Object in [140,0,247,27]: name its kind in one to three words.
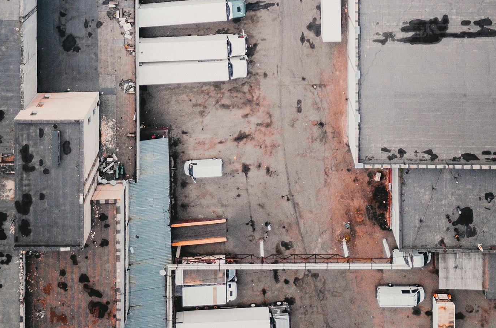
truck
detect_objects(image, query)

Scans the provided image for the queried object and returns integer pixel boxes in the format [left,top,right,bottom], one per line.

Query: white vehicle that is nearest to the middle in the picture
[185,158,222,184]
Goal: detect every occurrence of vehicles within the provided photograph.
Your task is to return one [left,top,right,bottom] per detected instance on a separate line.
[378,287,424,312]
[431,289,455,328]
[176,304,291,328]
[140,0,247,27]
[393,247,430,269]
[137,27,247,61]
[141,55,250,84]
[321,0,342,42]
[182,273,238,305]
[185,158,222,184]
